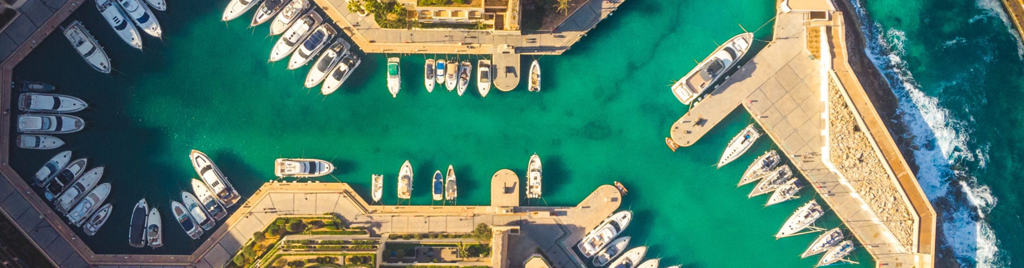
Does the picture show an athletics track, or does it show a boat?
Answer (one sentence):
The image shows a boat.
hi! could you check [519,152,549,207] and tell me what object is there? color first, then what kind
white boat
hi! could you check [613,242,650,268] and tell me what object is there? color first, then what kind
white boat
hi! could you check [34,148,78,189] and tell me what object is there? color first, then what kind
blue boat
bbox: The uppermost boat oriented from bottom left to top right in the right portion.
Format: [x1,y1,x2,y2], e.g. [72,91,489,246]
[674,17,775,106]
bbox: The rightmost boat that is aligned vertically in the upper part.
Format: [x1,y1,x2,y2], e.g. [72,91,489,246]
[528,56,541,94]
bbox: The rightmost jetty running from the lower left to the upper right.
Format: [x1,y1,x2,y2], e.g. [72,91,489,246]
[669,51,764,146]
